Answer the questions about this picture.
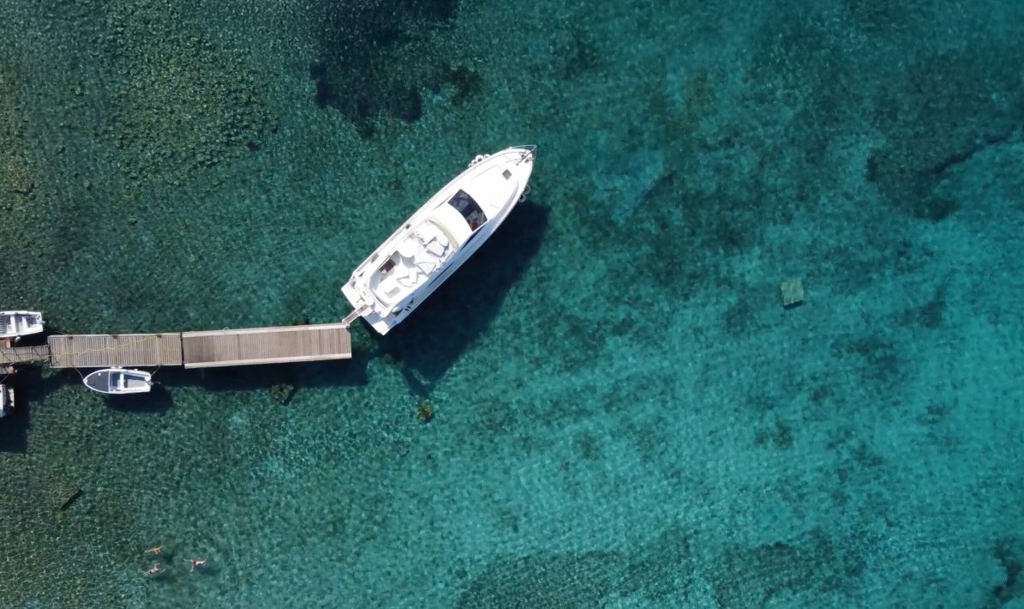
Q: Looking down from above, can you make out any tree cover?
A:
No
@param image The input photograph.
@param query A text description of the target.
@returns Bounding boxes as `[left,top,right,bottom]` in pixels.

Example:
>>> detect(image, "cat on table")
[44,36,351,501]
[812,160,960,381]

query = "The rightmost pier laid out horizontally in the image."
[184,321,353,367]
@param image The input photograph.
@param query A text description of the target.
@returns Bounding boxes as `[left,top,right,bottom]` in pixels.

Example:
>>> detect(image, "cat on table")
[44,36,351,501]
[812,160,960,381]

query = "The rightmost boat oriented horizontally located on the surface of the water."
[82,368,158,394]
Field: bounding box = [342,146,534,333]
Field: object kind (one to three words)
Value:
boat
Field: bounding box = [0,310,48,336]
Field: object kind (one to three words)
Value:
boat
